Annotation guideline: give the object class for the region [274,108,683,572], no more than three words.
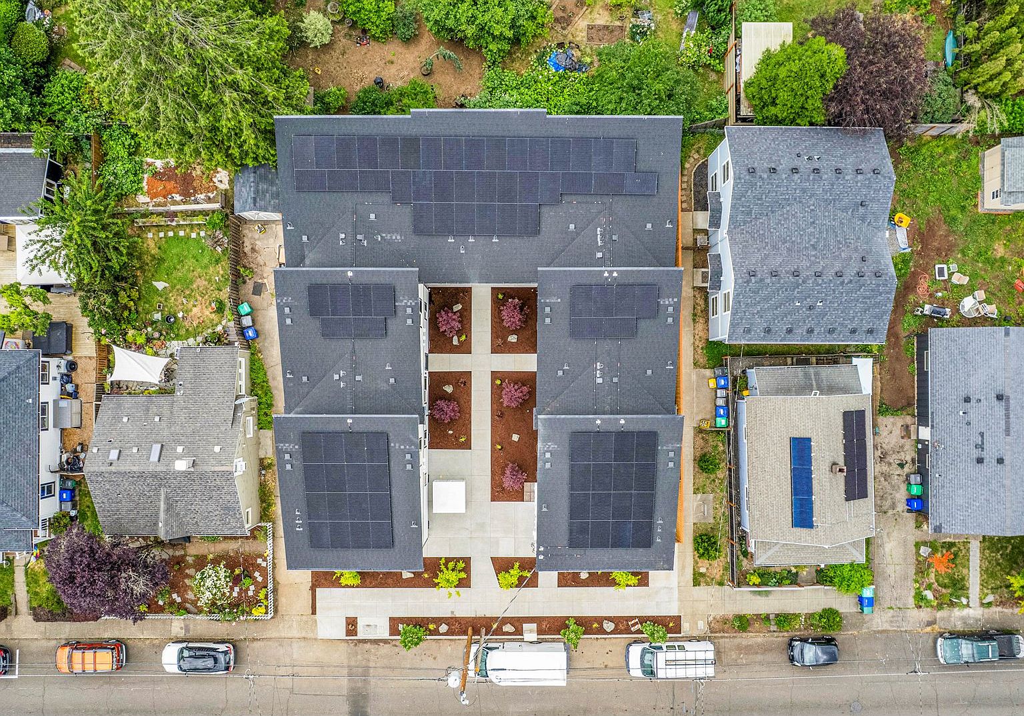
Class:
building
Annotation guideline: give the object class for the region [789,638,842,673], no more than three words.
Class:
car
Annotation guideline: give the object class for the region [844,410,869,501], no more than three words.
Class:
solar array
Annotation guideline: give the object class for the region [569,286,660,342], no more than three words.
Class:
solar array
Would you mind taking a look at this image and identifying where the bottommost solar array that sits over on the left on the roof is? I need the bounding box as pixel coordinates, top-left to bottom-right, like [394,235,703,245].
[300,434,394,554]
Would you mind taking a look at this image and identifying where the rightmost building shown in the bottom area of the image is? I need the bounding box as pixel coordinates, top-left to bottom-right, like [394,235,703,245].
[916,328,1024,538]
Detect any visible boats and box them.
[941,30,956,67]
